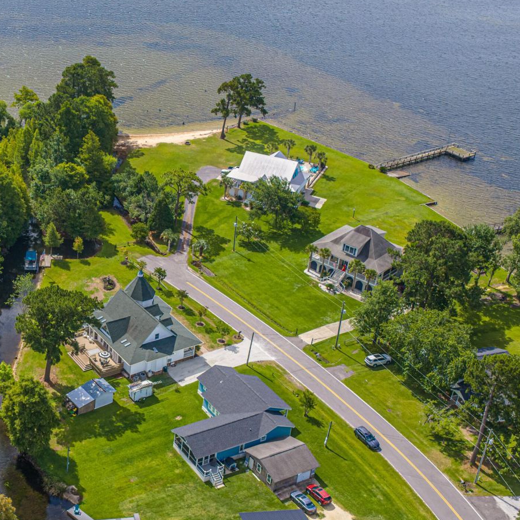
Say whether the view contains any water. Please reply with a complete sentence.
Yes, water can be seen from above here.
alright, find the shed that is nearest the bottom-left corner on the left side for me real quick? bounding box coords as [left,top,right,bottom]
[66,378,116,414]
